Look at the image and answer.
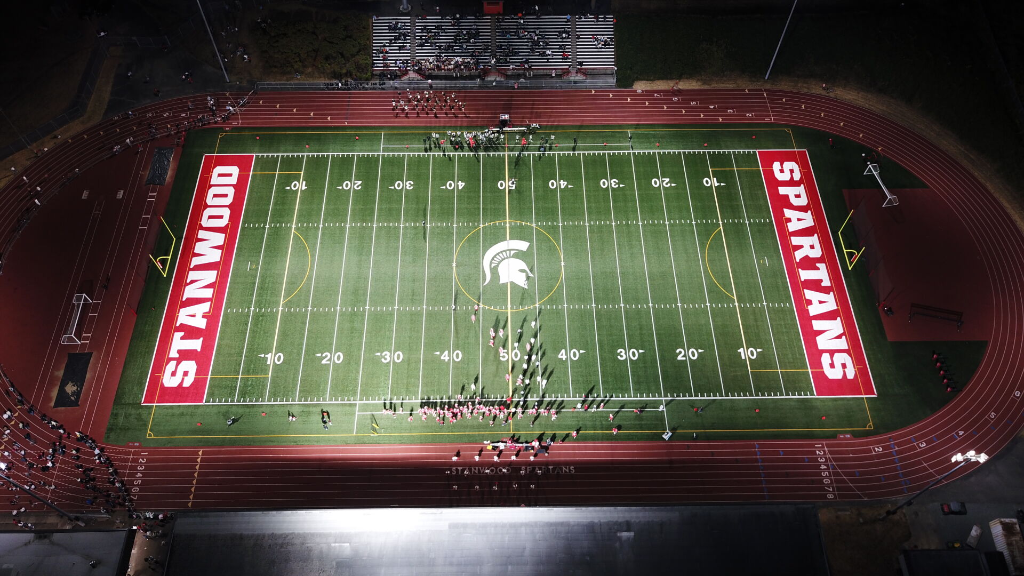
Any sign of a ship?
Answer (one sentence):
No, I can't see a single ship in this photo.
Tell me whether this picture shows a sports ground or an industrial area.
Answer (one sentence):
This looks like a sports ground.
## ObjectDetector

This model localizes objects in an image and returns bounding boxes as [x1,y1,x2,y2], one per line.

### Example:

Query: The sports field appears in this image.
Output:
[103,124,990,447]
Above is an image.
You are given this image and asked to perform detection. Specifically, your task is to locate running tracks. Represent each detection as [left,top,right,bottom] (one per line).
[0,88,1024,514]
